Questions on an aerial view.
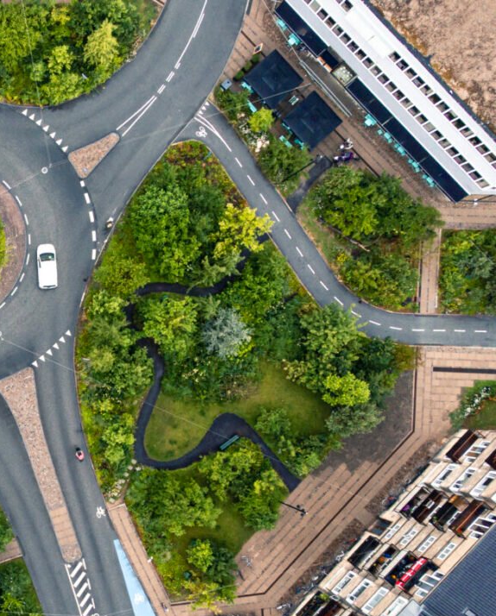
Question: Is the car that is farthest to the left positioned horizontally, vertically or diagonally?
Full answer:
In this picture, the car that is farthest to the left is oriented vertically.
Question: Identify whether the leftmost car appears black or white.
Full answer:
The leftmost car is white.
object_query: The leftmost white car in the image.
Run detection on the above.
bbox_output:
[36,245,59,289]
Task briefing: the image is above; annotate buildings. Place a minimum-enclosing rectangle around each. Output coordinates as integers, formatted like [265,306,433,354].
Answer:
[284,427,496,616]
[257,0,496,201]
